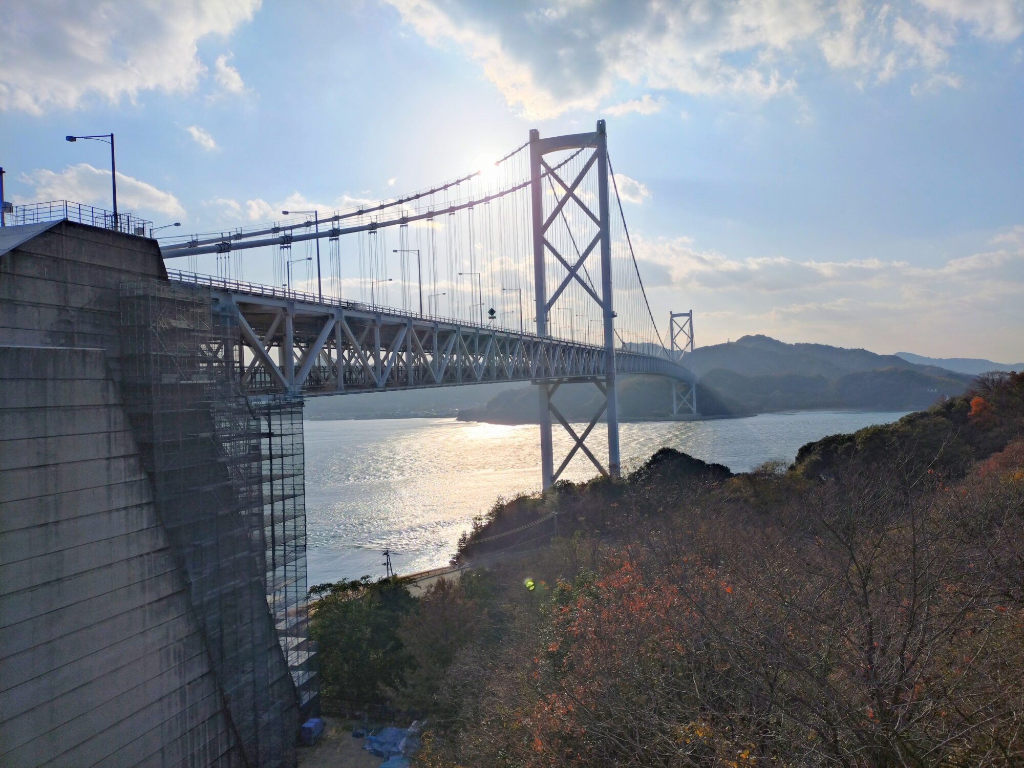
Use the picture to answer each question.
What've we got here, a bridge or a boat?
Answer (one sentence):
Looking from above, you can make out a bridge.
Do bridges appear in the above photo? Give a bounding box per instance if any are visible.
[162,118,700,488]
